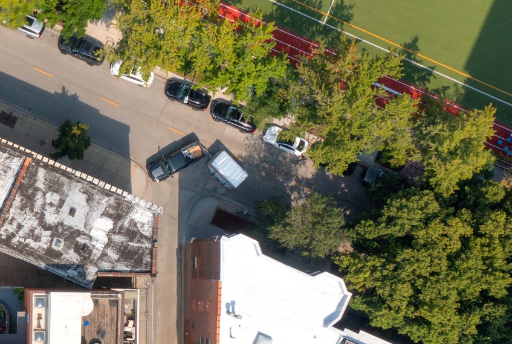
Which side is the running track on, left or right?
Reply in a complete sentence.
It is on the right.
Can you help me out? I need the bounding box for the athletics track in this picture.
[173,0,512,162]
